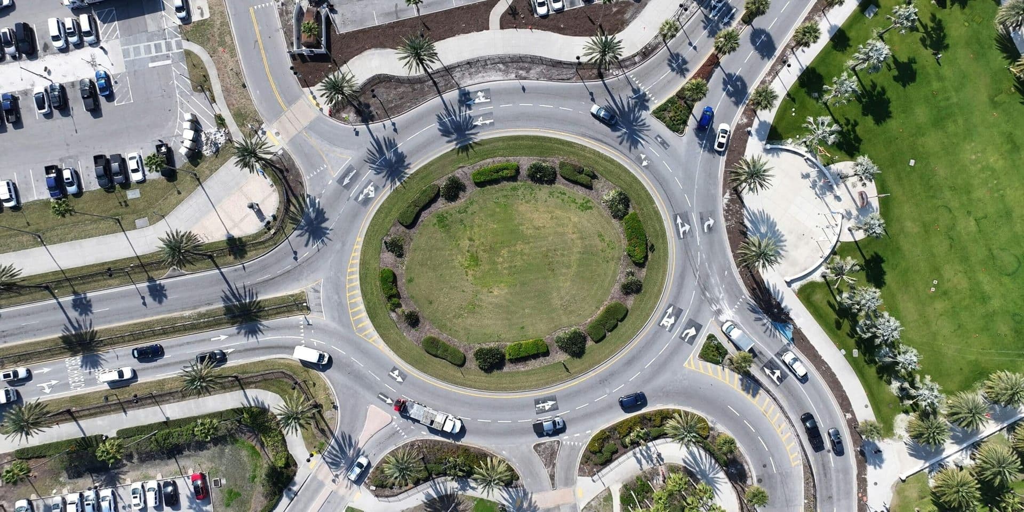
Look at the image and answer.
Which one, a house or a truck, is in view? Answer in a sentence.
Of the two, only a truck appears.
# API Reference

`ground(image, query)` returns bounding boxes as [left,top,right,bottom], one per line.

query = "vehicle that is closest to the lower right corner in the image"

[826,425,844,456]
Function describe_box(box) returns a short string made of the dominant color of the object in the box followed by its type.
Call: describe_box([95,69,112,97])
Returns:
blue car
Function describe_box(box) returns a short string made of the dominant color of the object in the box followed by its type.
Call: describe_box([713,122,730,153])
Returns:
white car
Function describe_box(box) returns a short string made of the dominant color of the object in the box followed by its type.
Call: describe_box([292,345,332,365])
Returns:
white vehicle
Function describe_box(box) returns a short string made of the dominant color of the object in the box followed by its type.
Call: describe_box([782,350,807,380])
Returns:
white car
